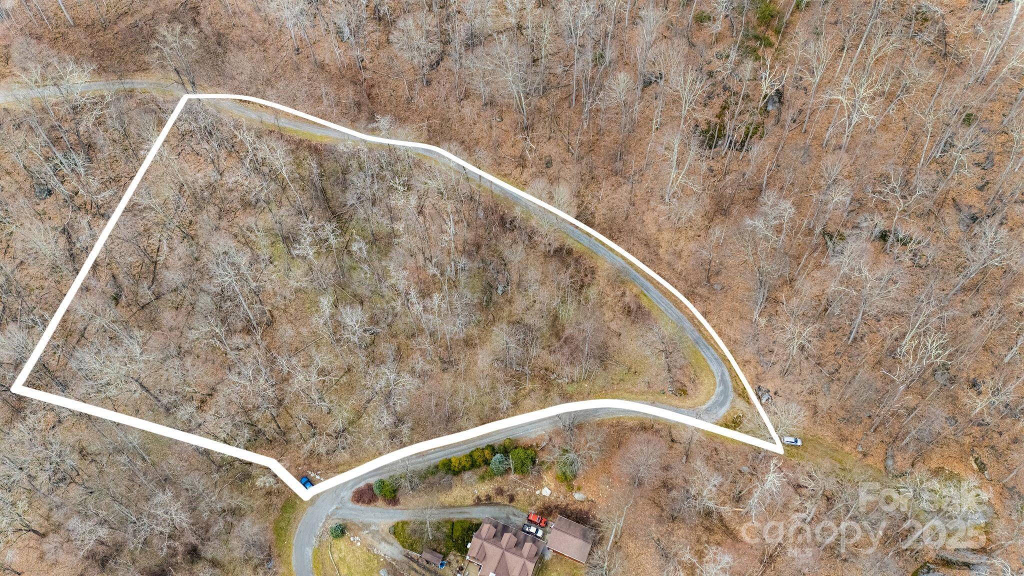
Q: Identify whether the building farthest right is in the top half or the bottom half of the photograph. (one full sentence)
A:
The building farthest right is in the bottom half of the image.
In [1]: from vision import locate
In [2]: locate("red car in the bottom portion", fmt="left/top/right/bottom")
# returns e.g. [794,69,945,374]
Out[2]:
[528,512,547,527]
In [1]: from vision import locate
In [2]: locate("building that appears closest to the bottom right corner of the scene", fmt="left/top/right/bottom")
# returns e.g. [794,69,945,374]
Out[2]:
[547,515,597,566]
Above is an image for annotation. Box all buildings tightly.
[462,517,546,576]
[420,548,444,567]
[547,515,597,566]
